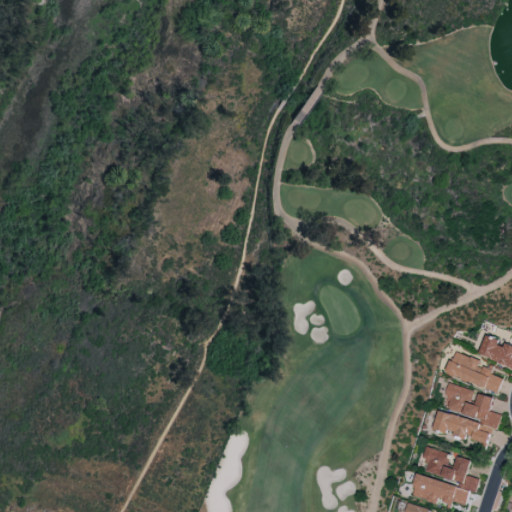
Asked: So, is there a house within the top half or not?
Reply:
No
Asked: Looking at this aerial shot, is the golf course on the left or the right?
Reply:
right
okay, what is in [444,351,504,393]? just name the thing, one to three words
house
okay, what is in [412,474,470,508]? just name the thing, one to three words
house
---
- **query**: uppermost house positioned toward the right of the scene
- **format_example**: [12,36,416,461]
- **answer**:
[482,331,512,362]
